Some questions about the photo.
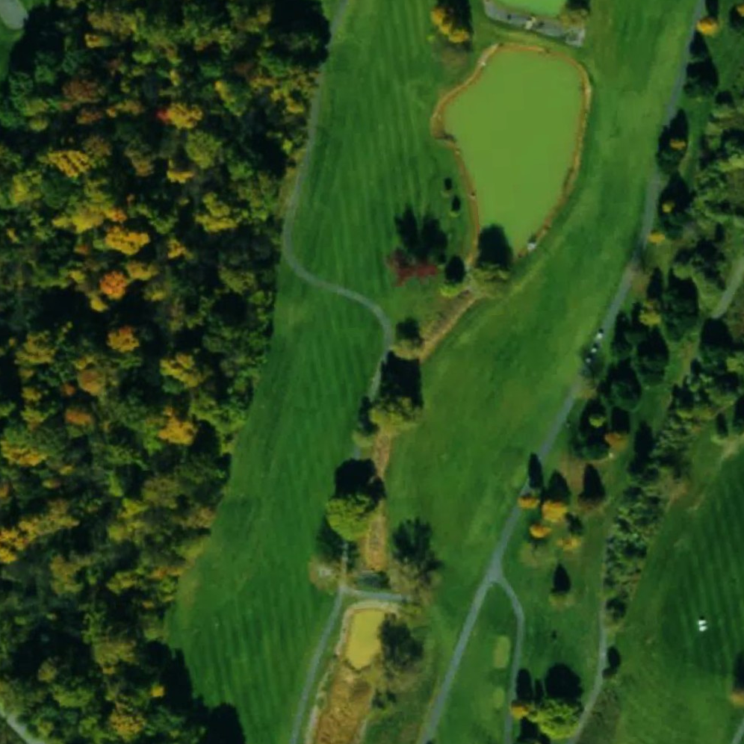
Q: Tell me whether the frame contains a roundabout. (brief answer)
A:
No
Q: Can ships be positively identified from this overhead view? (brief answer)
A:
No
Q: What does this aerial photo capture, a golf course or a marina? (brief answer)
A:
golf course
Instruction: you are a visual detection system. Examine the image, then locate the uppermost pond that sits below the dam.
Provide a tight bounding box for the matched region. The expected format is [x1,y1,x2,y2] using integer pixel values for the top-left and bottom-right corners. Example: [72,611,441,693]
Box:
[437,39,590,271]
